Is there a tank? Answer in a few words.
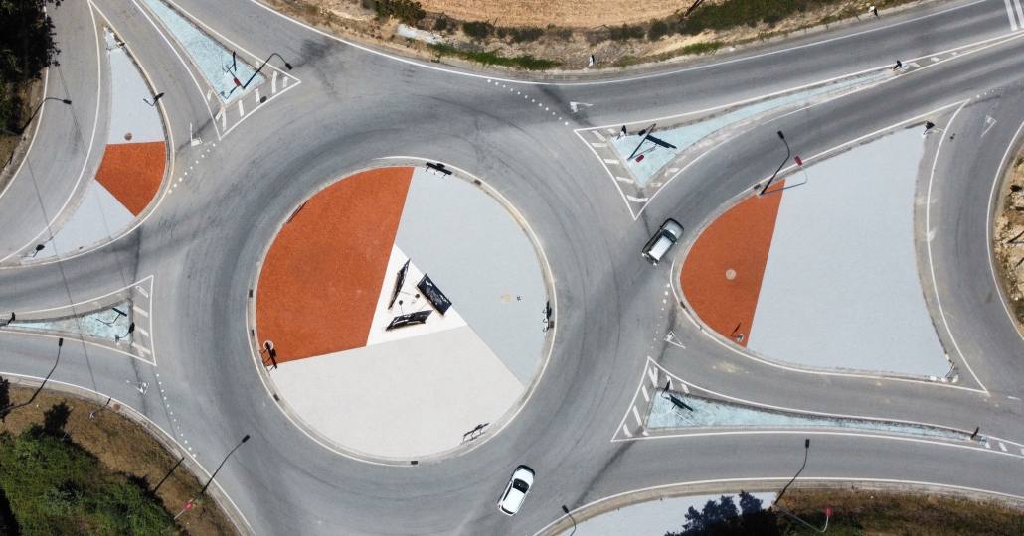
No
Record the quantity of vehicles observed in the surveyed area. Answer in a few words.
2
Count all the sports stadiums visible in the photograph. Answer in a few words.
0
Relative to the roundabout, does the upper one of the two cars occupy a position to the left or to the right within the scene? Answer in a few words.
right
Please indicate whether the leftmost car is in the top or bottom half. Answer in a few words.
bottom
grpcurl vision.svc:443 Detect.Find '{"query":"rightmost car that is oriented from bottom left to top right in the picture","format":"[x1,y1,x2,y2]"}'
[642,219,687,267]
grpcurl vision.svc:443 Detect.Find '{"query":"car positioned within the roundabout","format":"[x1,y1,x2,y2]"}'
[498,469,534,521]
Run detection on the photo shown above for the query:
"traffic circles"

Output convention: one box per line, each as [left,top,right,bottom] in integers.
[157,65,646,536]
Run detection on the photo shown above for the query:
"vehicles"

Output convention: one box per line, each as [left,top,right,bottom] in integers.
[642,219,687,267]
[498,469,534,521]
